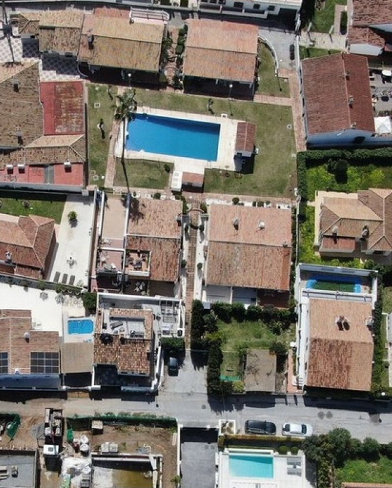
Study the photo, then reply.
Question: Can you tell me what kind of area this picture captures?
residential area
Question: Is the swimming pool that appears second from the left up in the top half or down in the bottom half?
top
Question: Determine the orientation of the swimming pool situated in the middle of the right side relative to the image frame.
horizontally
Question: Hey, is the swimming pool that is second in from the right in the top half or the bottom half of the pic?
bottom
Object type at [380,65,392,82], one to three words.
umbrella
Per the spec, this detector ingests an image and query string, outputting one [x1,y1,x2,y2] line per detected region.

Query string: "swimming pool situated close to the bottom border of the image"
[229,453,276,480]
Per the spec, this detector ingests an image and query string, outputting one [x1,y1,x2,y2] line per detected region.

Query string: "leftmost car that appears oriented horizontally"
[245,420,277,436]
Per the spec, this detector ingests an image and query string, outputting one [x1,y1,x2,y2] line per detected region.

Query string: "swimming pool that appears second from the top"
[306,272,364,293]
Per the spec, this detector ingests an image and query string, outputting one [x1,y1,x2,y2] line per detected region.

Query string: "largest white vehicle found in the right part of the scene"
[283,422,314,438]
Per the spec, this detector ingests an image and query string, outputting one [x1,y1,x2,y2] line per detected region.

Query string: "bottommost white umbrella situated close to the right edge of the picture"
[375,116,392,133]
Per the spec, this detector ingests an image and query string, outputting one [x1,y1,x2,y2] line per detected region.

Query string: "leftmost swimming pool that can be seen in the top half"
[124,111,223,163]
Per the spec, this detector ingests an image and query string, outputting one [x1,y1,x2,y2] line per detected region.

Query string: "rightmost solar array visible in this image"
[31,352,59,373]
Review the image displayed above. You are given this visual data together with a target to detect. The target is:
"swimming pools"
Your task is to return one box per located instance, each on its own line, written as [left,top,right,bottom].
[306,272,364,293]
[66,317,96,335]
[124,111,223,163]
[229,453,276,480]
